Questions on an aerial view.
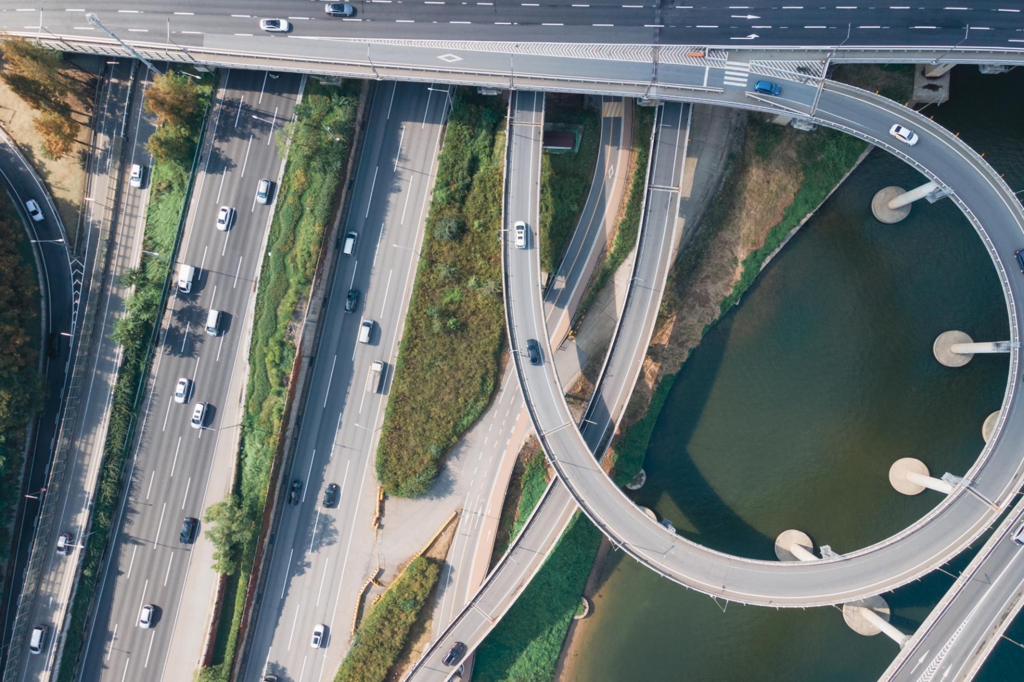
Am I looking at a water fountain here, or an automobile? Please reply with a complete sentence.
There is an automobile in the scene.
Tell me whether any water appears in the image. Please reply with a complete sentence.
Yes, some water is visible.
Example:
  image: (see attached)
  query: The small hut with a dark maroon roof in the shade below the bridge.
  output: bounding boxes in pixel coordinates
[542,127,575,146]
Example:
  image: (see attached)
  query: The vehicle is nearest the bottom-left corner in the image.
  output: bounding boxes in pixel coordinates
[28,627,45,653]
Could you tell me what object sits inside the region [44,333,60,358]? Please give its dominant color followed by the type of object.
black vehicle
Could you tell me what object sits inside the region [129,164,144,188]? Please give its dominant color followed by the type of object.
white car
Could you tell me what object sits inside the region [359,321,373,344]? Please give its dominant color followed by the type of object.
white vehicle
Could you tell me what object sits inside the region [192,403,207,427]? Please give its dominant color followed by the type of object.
white car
